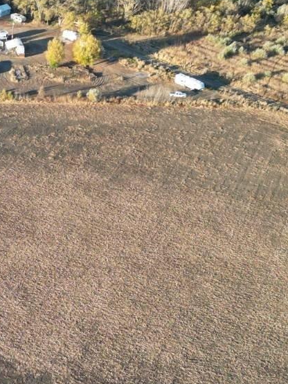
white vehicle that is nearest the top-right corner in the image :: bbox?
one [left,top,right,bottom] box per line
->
[176,72,210,90]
